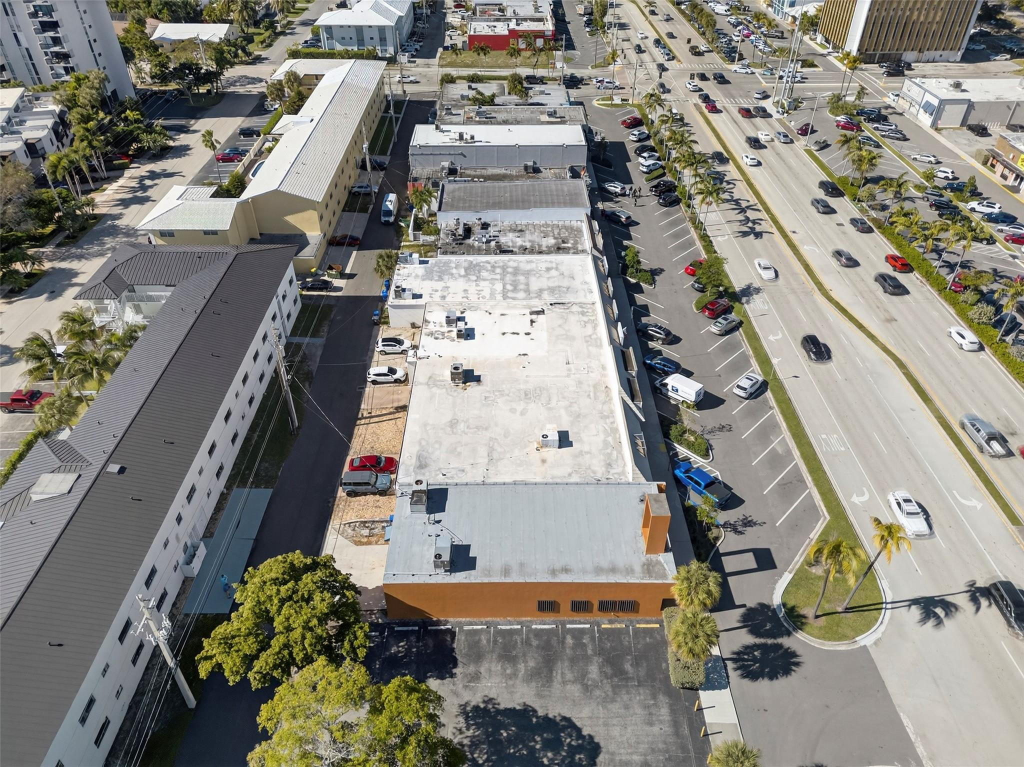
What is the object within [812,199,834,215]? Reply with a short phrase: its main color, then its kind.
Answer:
gray car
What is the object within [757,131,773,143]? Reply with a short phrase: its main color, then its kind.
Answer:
white vehicle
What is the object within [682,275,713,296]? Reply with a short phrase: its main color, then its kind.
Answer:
gray car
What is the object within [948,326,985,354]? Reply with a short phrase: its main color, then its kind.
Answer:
white car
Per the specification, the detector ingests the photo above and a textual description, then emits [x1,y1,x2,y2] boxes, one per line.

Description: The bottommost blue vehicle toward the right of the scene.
[669,459,739,507]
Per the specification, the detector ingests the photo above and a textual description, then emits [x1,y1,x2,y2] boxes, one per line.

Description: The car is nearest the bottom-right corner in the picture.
[985,573,1024,641]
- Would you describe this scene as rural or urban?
urban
